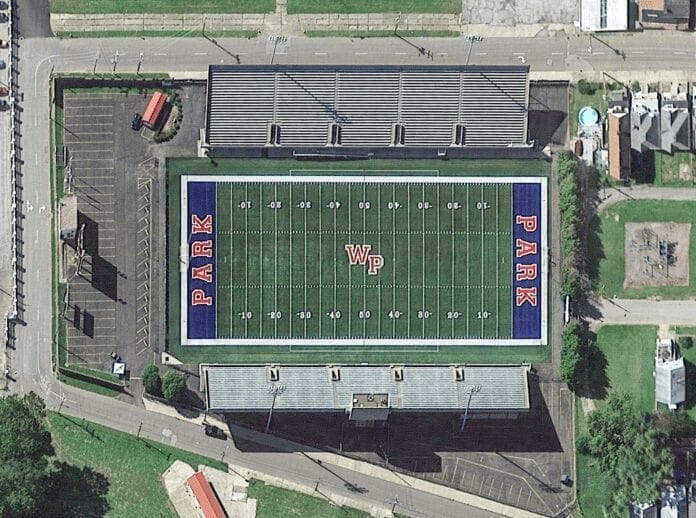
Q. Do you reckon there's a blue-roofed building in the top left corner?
No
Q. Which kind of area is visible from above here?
sports ground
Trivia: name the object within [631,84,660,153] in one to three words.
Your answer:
house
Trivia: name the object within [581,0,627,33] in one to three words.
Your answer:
building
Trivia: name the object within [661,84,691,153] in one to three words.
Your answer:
house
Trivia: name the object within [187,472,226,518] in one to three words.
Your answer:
building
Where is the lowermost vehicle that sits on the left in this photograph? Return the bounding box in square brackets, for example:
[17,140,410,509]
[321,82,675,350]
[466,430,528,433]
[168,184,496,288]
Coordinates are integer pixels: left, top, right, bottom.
[207,427,226,439]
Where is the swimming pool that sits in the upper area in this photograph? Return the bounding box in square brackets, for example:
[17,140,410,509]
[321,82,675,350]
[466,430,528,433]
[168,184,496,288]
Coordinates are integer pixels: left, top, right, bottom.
[581,107,600,126]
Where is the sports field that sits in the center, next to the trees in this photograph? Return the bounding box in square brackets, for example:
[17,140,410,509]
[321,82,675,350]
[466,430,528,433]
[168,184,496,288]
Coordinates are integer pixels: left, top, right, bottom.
[166,157,551,364]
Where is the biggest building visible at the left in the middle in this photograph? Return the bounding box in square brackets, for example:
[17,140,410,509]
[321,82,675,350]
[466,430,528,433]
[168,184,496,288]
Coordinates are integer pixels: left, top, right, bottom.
[58,196,77,243]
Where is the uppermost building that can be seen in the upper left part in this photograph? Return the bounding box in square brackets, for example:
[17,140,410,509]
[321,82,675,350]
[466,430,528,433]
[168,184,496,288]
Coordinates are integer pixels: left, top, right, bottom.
[143,92,168,129]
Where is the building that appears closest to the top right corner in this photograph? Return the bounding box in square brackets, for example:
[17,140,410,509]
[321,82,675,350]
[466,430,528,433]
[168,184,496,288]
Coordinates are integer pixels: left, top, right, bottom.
[639,0,690,31]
